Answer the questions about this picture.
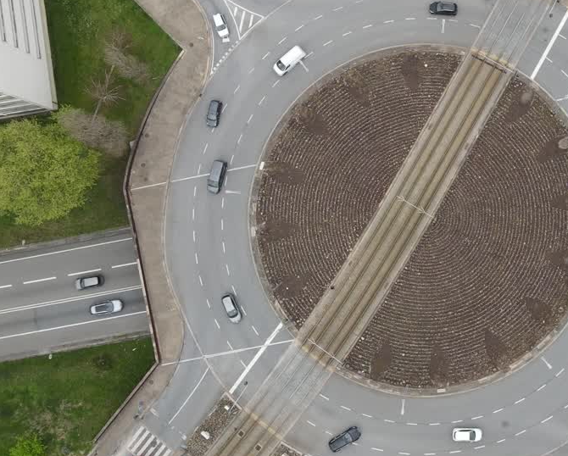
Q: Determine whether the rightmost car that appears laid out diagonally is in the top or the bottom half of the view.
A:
bottom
